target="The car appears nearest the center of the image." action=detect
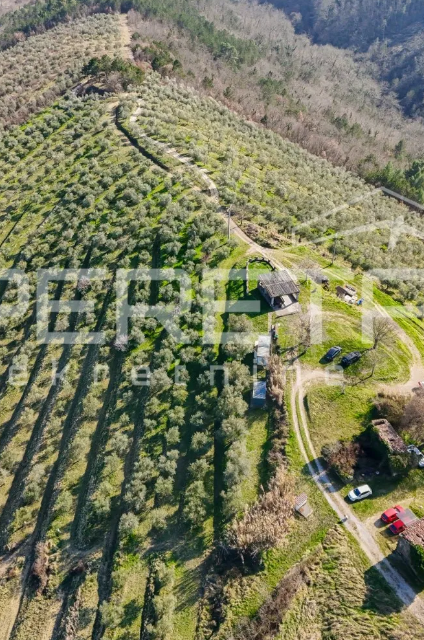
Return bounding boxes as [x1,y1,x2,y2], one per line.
[324,344,344,361]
